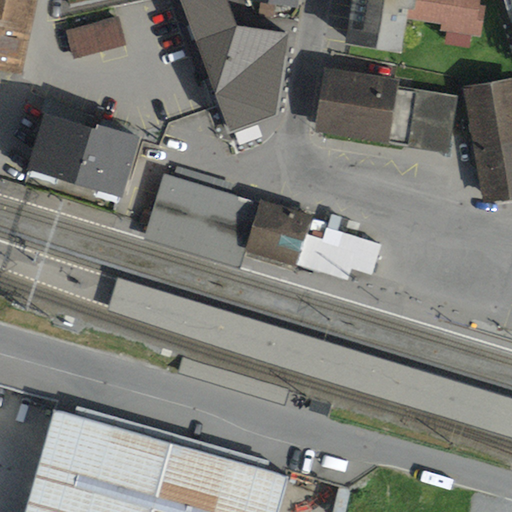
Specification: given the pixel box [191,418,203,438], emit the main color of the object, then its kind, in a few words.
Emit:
gray vehicle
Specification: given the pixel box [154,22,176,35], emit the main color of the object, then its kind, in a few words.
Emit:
black vehicle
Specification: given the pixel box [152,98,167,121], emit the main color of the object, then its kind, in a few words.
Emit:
black car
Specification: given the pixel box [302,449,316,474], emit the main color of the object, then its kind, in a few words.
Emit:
white vehicle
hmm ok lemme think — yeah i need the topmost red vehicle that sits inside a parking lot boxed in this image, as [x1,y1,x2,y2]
[152,10,174,22]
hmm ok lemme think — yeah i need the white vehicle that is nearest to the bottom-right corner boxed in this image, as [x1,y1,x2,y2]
[414,468,455,489]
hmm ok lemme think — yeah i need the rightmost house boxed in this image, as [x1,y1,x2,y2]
[464,80,512,200]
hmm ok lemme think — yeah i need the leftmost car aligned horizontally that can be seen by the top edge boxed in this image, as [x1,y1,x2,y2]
[73,16,95,28]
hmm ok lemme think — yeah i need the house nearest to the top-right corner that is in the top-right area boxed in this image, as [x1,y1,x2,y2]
[408,0,486,48]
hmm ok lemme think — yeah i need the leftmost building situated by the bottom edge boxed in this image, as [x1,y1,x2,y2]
[26,405,287,512]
